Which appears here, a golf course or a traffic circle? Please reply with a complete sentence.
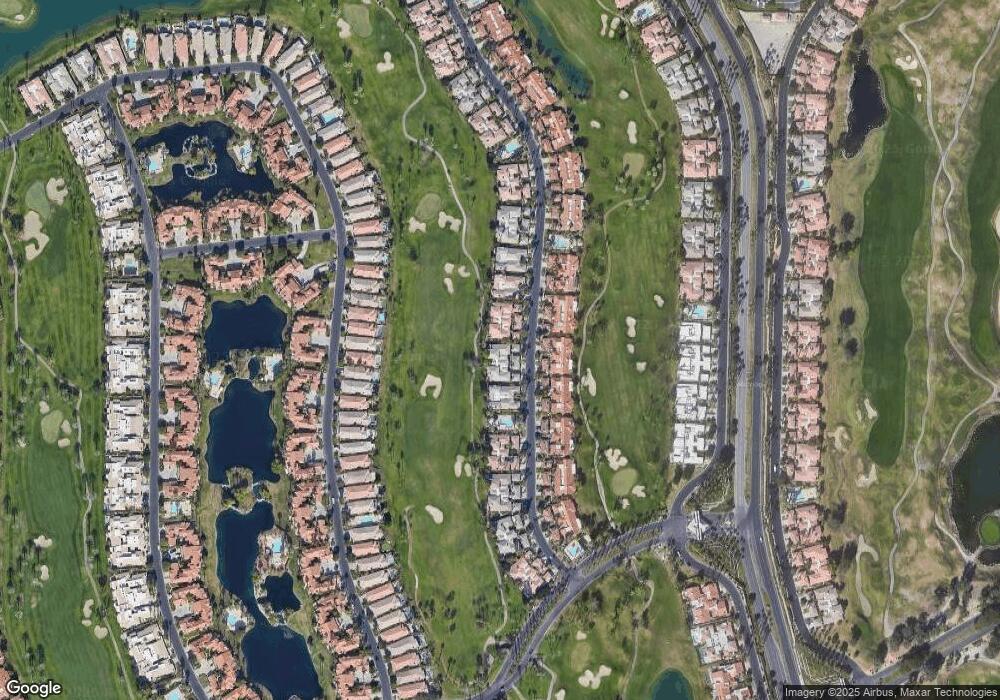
It is a golf course that can be seen here.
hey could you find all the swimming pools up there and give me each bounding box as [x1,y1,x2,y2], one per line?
[628,0,657,26]
[163,501,191,516]
[787,486,818,504]
[265,354,282,380]
[161,683,186,700]
[235,141,252,169]
[227,608,246,631]
[117,32,145,52]
[683,305,711,318]
[351,514,382,526]
[317,108,342,126]
[797,175,819,191]
[464,0,485,11]
[562,540,584,560]
[149,145,167,173]
[550,234,576,250]
[205,371,224,397]
[497,414,515,430]
[502,139,521,157]
[122,253,138,275]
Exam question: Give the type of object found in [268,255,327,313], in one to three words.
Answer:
house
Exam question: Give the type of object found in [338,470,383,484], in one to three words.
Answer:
house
